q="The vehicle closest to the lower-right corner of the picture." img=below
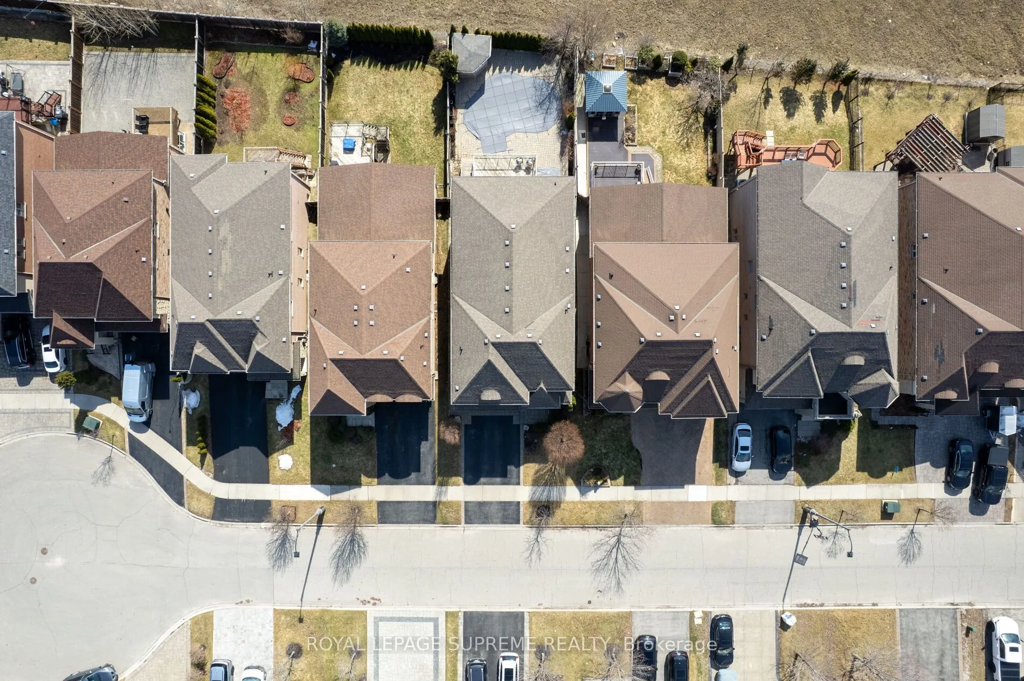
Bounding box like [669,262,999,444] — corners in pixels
[985,618,1021,681]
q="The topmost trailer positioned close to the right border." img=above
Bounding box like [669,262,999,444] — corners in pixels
[981,404,1017,443]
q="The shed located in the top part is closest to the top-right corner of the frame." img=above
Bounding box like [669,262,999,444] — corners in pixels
[965,103,1006,144]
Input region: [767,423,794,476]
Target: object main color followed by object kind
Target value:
black car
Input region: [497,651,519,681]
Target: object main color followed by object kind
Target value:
white car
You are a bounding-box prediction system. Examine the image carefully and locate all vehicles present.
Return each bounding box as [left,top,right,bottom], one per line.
[121,359,158,422]
[985,618,1021,681]
[665,649,688,681]
[39,325,72,373]
[728,421,755,474]
[497,651,519,681]
[466,657,487,681]
[709,614,736,669]
[944,436,976,490]
[0,316,37,374]
[209,658,235,681]
[65,661,121,681]
[767,423,794,476]
[634,634,660,681]
[976,442,1013,507]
